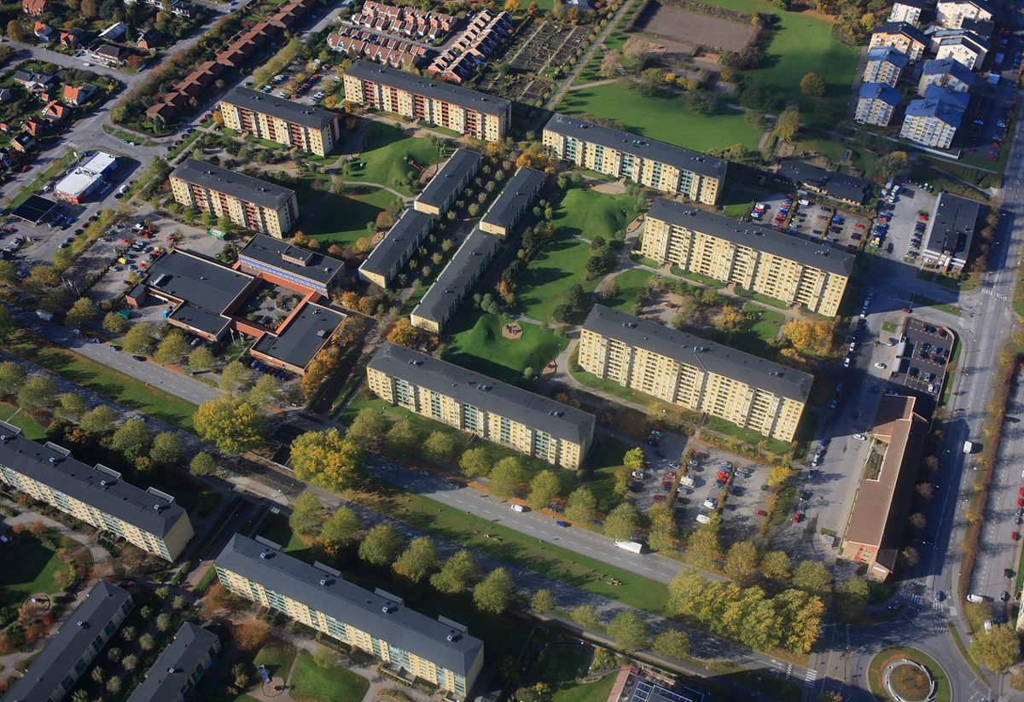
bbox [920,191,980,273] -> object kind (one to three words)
building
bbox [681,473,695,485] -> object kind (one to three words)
vehicle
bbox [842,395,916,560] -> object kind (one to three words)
building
